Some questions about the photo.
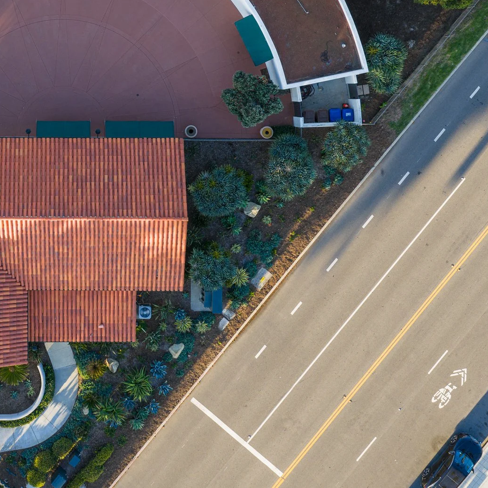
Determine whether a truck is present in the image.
No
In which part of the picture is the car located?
bottom right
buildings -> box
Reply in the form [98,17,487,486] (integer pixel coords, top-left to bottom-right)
[0,120,190,368]
[233,0,368,95]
